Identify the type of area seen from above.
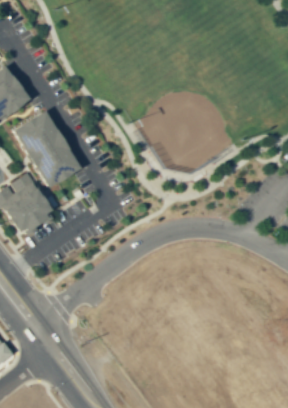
sports ground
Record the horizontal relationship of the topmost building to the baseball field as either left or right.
left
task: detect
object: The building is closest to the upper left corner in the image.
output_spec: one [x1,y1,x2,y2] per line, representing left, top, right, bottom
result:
[0,66,31,120]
